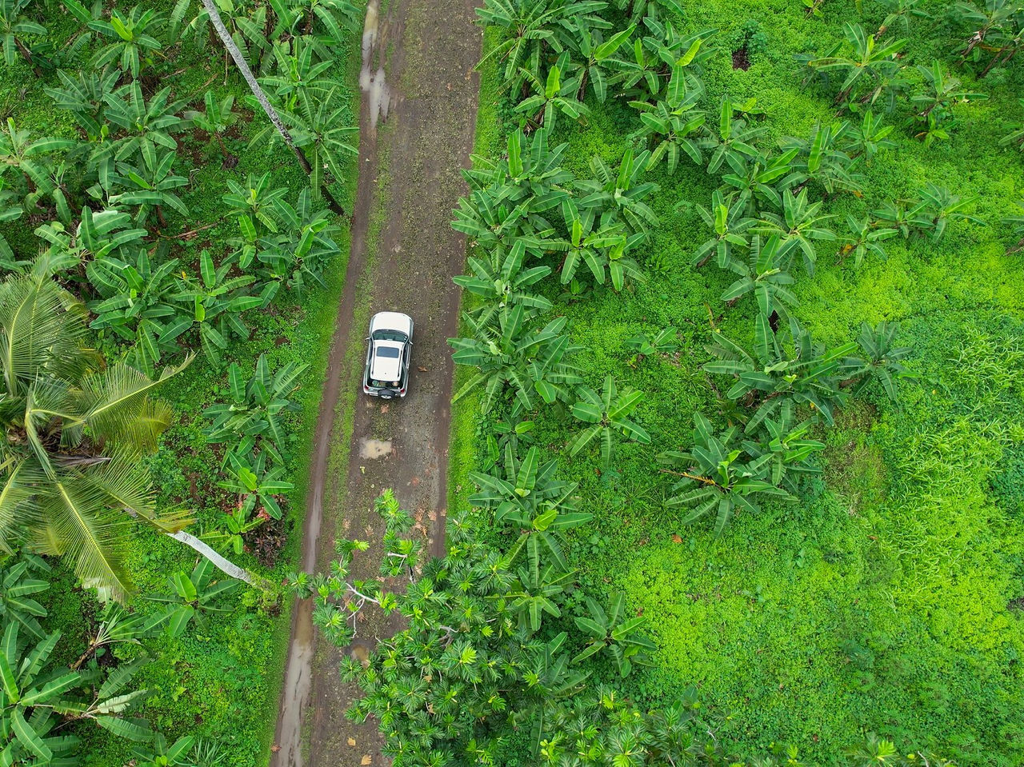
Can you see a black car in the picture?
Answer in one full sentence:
No, no black car is visible in the view.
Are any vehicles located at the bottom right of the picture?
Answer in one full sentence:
No, at the bottom right of the picture there is no vehicle.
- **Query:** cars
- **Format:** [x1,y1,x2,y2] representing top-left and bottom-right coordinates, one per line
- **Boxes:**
[360,311,416,402]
